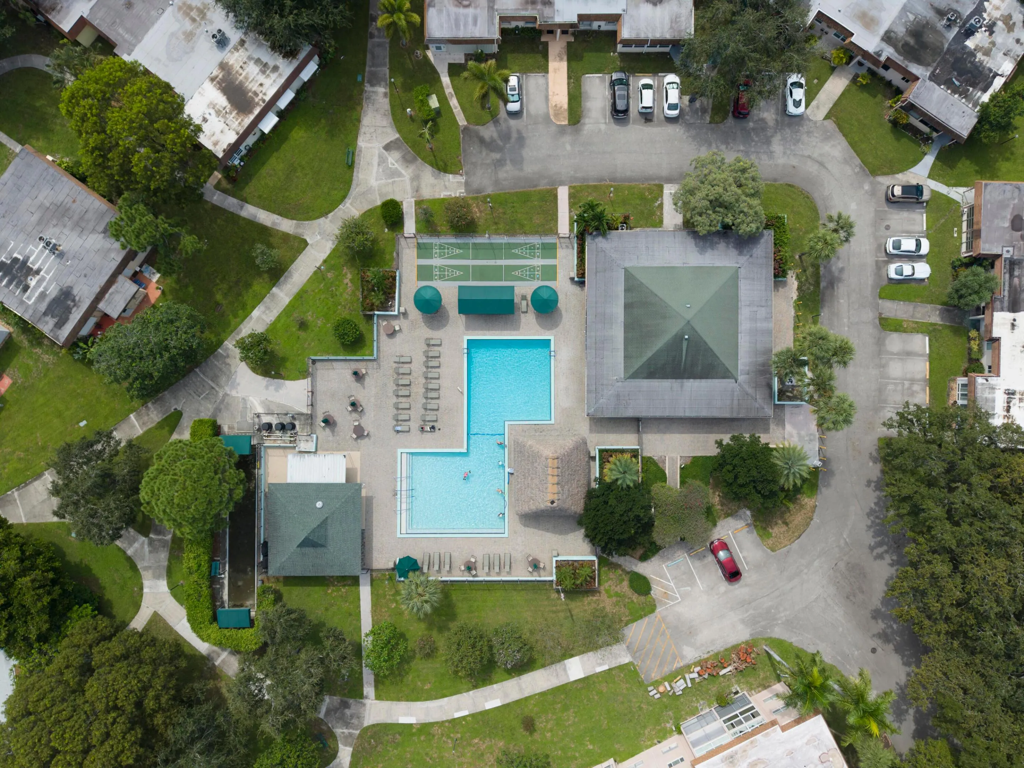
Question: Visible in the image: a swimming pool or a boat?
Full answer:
Of the two, only a swimming pool appears.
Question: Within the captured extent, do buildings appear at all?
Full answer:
Yes, the frame does contain a building.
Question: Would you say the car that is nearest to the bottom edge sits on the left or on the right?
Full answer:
You can find the car that is nearest to the bottom edge on the right side of the picture.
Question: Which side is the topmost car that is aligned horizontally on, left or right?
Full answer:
The topmost car that is aligned horizontally is on the right side of the image.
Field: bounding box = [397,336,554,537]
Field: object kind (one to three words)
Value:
swimming pool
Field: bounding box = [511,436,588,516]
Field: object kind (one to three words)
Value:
shed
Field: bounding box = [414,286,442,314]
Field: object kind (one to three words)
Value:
umbrella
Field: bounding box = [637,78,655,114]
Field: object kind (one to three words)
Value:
car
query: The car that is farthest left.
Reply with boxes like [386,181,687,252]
[504,74,523,115]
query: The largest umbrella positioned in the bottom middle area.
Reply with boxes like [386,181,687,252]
[396,554,420,579]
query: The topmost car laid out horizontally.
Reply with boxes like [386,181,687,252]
[884,183,929,204]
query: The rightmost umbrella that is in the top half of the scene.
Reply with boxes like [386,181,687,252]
[531,286,558,314]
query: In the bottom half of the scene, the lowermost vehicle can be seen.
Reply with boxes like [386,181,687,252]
[710,537,740,582]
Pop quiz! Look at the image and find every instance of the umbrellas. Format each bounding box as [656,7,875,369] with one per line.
[396,554,420,579]
[531,286,558,314]
[414,286,442,314]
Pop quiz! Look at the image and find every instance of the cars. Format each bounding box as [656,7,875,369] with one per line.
[885,261,928,281]
[710,537,740,582]
[784,75,806,117]
[637,78,655,114]
[884,183,929,204]
[610,73,630,119]
[883,236,928,256]
[504,74,523,115]
[731,79,752,120]
[662,74,682,119]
